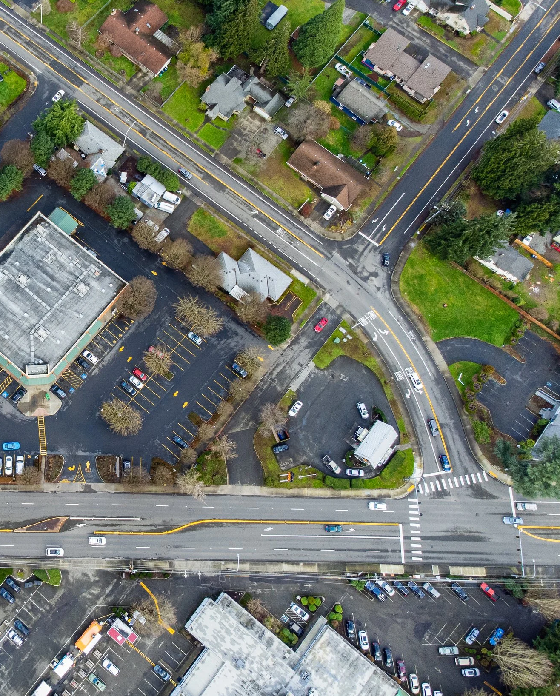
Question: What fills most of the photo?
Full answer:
The bulk of the photo consists of paved ground.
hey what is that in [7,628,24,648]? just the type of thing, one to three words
car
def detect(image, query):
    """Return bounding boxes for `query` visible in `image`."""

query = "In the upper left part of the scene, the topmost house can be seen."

[98,0,174,78]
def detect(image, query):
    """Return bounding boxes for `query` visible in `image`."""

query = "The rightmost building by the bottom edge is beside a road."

[164,591,409,696]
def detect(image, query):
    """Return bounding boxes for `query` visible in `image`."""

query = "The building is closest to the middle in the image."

[213,247,293,302]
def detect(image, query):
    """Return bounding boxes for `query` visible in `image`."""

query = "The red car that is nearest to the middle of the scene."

[314,318,327,333]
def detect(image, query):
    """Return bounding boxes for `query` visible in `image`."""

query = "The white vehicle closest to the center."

[288,400,302,417]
